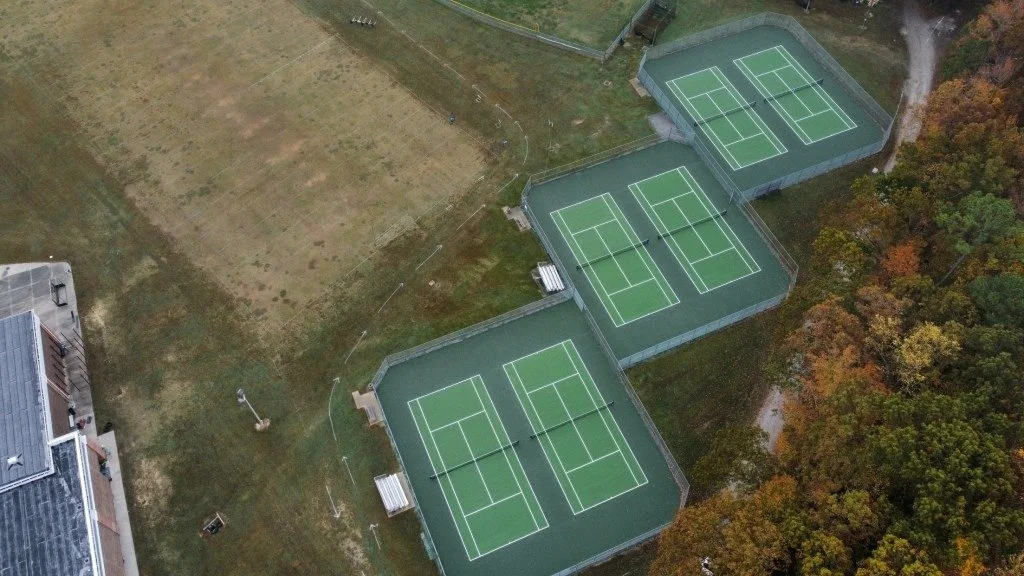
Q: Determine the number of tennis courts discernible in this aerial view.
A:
6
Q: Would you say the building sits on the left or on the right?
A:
left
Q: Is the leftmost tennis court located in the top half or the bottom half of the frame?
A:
bottom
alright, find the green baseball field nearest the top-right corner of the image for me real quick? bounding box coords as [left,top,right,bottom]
[439,0,653,60]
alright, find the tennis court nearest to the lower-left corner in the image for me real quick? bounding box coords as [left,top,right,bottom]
[408,375,549,560]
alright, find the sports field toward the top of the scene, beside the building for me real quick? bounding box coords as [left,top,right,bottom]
[0,0,528,370]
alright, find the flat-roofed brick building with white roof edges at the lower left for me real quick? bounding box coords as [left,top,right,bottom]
[0,317,126,576]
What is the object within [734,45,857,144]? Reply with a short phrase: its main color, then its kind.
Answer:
green tennis court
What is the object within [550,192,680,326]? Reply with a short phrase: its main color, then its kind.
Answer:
green tennis court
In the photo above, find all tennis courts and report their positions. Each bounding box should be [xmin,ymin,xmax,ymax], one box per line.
[550,192,680,326]
[667,66,788,170]
[408,375,549,560]
[503,339,648,514]
[628,166,761,293]
[734,45,857,144]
